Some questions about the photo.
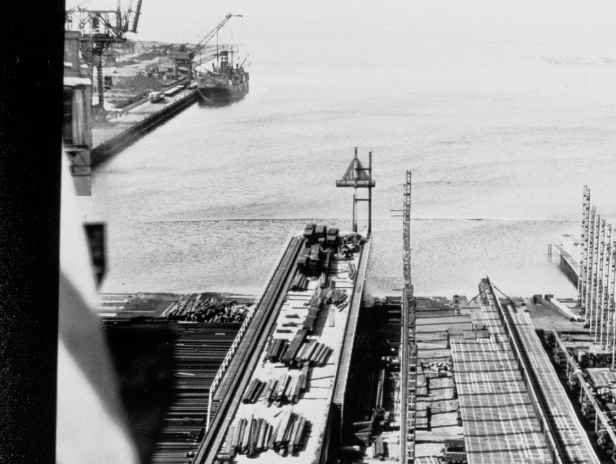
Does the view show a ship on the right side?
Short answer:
No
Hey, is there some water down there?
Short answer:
Yes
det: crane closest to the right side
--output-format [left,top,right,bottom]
[163,14,242,93]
